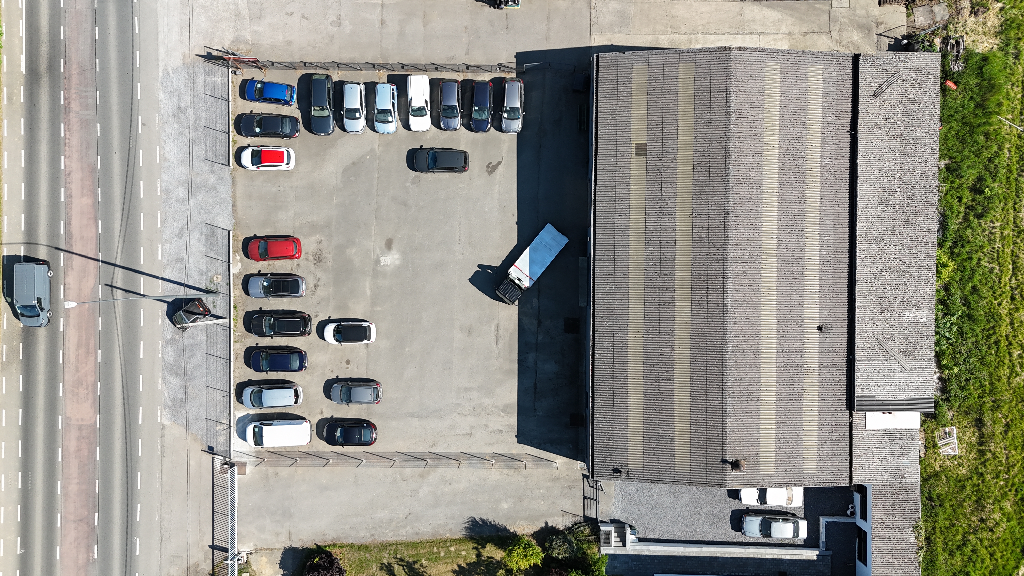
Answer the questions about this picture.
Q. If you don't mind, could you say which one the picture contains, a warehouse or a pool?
warehouse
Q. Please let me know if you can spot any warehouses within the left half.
No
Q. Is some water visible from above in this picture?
No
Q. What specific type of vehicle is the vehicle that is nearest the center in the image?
truck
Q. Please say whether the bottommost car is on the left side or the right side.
right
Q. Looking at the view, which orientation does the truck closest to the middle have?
on a diagonal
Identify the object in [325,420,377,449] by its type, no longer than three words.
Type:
car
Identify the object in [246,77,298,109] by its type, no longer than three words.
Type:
car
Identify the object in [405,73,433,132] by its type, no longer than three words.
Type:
van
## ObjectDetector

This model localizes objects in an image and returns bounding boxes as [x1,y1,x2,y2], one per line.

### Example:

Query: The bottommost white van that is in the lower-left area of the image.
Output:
[246,420,313,450]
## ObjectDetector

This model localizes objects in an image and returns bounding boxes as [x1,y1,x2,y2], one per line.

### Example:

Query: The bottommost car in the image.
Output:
[739,512,806,542]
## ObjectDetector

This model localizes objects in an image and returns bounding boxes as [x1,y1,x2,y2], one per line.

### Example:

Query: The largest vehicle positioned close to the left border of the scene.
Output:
[16,262,57,327]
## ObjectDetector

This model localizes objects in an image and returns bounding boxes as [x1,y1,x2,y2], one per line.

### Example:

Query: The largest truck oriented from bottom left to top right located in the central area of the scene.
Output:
[494,223,568,306]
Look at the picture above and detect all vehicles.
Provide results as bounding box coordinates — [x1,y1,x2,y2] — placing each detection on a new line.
[243,382,304,411]
[249,234,303,263]
[176,298,214,333]
[325,420,377,449]
[252,311,312,341]
[484,0,522,8]
[307,75,337,137]
[331,380,384,408]
[252,347,309,375]
[739,512,806,542]
[246,77,298,109]
[249,271,307,302]
[494,223,568,306]
[736,488,803,511]
[324,319,376,348]
[246,420,313,450]
[405,73,433,132]
[498,79,526,135]
[468,81,495,134]
[415,146,469,175]
[436,80,463,132]
[16,262,57,327]
[338,82,367,135]
[371,84,398,135]
[242,110,302,140]
[242,143,297,172]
